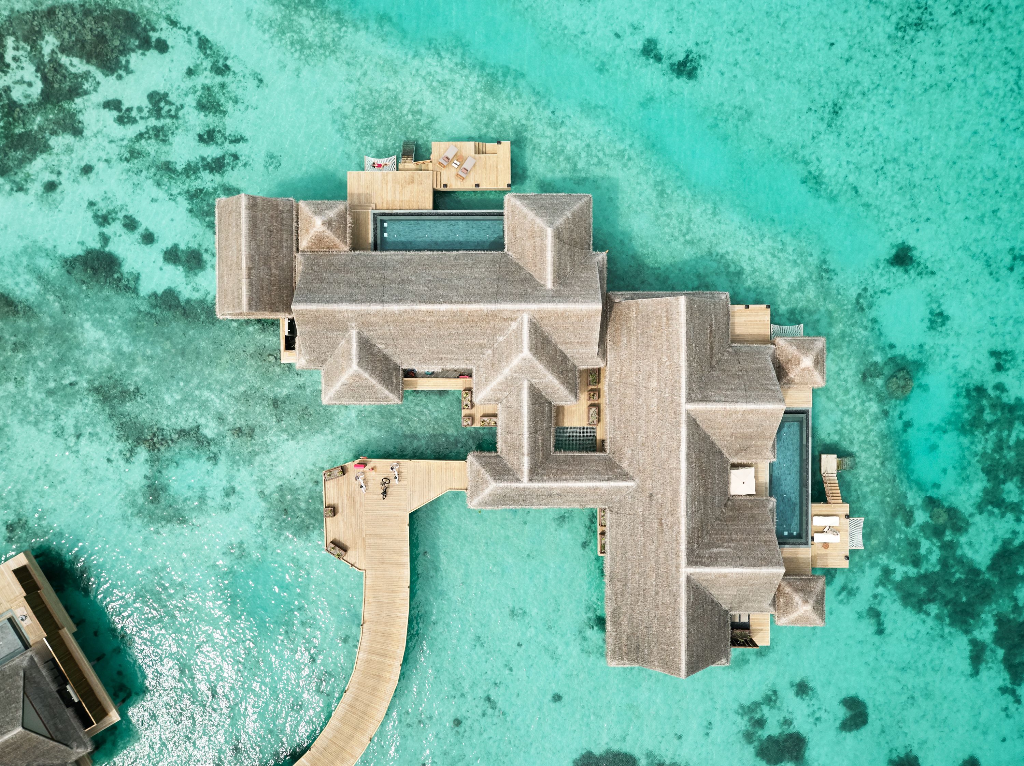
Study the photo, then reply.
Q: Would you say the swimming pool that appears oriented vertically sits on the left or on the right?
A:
right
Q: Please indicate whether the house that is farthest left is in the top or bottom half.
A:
bottom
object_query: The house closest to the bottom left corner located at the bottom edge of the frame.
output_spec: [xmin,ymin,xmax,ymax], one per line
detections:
[0,547,133,766]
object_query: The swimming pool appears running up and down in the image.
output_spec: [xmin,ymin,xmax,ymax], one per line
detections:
[765,407,812,548]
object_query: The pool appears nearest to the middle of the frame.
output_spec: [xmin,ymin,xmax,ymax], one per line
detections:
[371,210,507,254]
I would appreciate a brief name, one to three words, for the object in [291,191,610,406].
house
